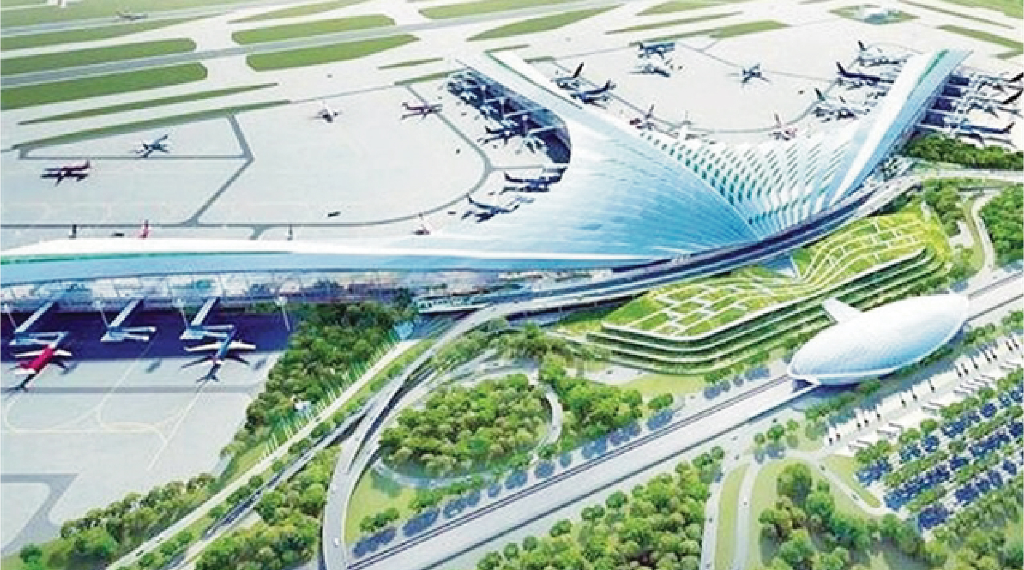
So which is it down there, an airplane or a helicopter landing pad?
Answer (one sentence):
Of the two, only an airplane appears.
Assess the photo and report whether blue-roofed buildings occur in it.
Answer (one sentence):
Yes, there's a blue-roofed building down there.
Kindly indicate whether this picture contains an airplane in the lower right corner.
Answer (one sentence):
No, there is no airplane in the lower right corner.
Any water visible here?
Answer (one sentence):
No, there is no water in the image.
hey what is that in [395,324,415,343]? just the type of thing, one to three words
building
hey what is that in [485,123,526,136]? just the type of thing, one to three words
airplane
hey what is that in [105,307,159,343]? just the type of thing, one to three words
jet bridge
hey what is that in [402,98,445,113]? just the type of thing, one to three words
airplane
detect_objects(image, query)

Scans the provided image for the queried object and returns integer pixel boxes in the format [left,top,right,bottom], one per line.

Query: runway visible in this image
[0,0,644,88]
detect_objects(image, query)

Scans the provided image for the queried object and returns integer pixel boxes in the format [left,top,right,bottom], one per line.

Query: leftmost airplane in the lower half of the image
[0,330,79,382]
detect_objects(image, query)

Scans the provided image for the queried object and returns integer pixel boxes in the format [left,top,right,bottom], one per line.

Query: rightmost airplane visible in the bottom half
[171,328,256,379]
